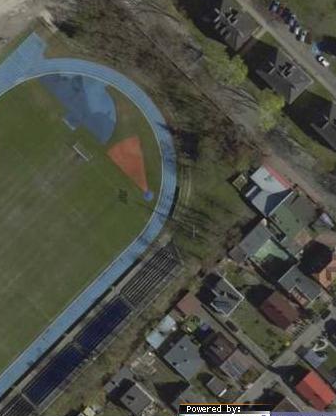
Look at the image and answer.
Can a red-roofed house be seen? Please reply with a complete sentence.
Yes, a red-roofed house can be made out from above.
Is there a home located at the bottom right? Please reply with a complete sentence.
Yes, you'll find a home at the bottom right.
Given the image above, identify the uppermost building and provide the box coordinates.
[204,0,259,49]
